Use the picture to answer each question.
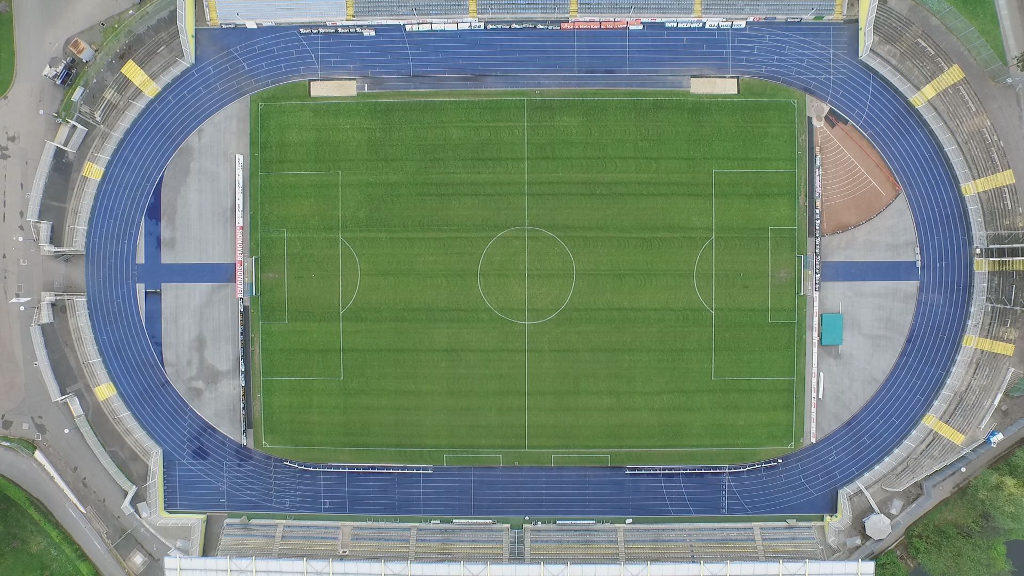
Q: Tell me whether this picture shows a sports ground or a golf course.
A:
sports ground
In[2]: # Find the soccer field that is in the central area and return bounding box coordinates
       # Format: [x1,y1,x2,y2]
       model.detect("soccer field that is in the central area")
[250,74,807,467]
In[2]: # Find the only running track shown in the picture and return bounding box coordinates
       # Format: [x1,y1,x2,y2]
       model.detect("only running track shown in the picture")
[85,20,973,516]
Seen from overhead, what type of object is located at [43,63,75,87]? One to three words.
truck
